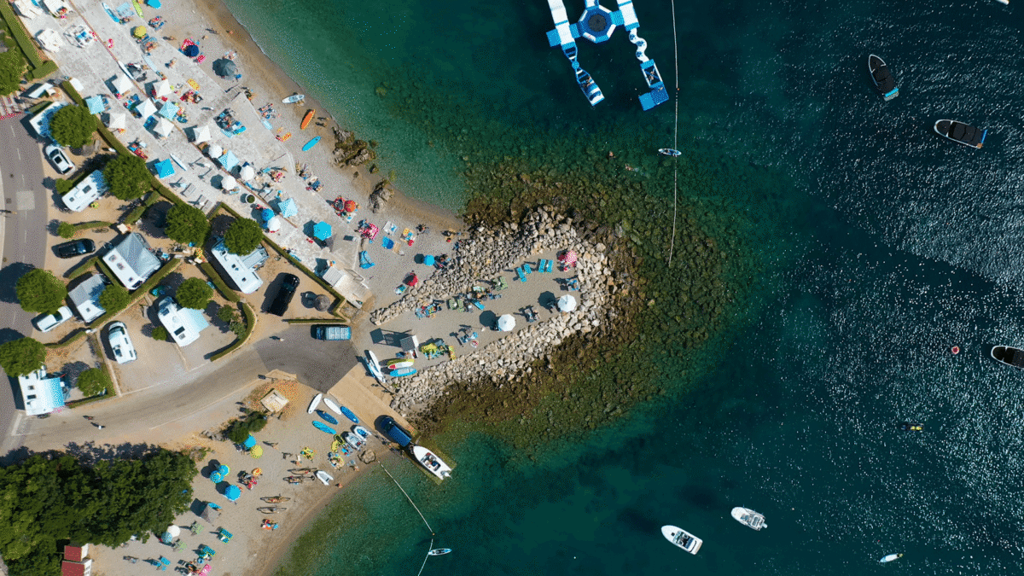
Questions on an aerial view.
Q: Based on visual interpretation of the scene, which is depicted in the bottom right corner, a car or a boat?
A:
boat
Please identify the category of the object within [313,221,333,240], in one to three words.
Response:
umbrella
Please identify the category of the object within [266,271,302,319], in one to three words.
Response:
van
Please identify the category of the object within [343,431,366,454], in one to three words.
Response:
boat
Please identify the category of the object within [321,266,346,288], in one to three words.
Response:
shed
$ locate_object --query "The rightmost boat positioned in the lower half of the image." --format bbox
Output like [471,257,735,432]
[988,347,1024,370]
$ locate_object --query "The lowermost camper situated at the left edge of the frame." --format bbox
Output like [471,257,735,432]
[22,366,74,419]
